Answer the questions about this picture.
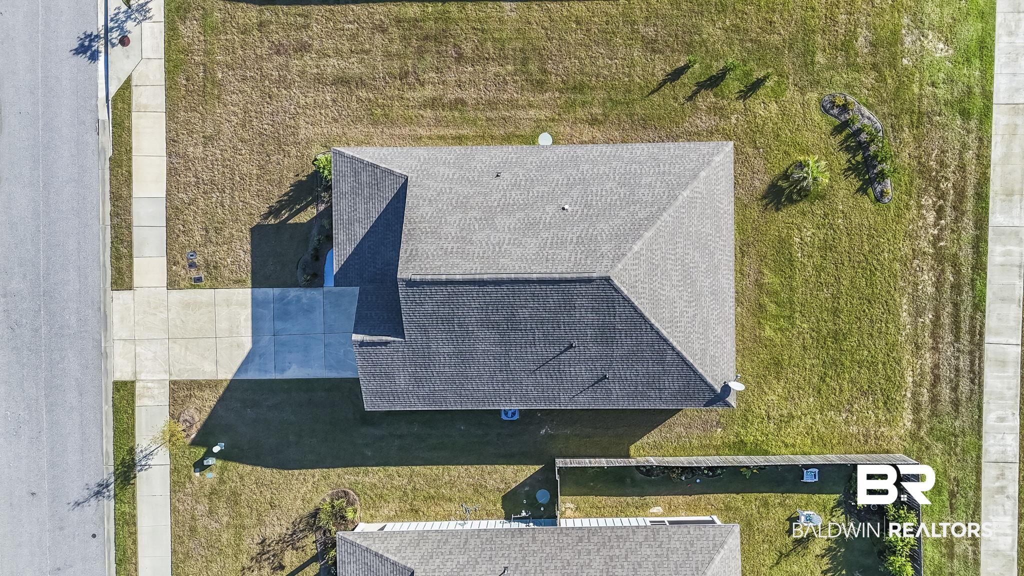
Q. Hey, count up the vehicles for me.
zero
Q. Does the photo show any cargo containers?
No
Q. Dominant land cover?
grass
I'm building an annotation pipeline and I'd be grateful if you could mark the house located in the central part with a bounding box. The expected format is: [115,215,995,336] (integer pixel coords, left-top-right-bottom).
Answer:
[331,141,737,412]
